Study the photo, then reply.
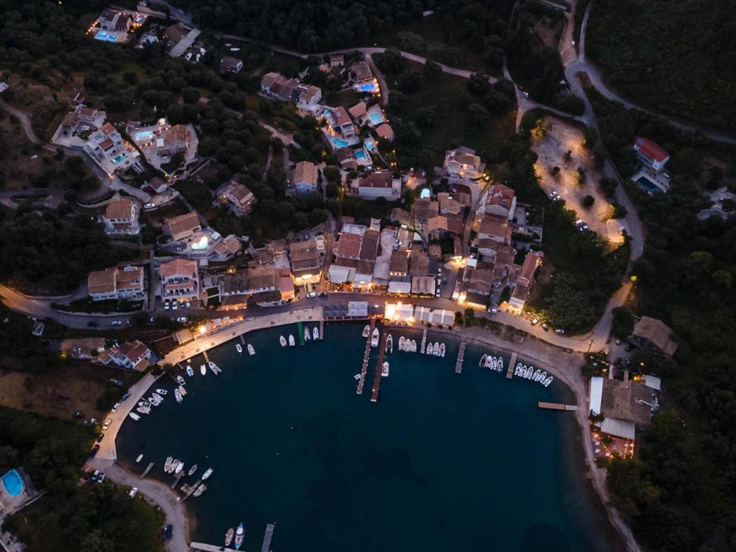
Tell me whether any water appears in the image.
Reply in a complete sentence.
Yes, water shows up in the scene.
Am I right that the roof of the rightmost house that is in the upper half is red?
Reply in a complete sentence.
Yes, red is the color of the roof of the rightmost house that is in the upper half.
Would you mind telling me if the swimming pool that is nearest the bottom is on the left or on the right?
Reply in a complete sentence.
The swimming pool that is nearest the bottom is on the left side of the image.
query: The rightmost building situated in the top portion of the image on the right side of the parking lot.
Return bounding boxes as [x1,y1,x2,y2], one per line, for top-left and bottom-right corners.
[631,137,672,174]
